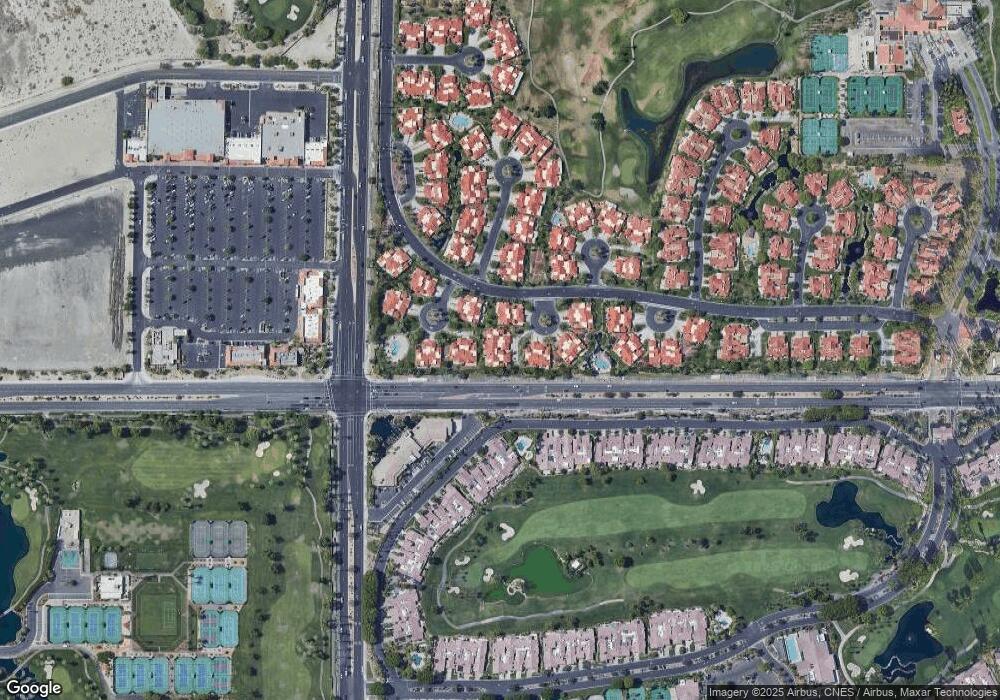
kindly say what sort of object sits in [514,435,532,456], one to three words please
swimming pool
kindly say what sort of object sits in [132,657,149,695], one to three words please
tennis court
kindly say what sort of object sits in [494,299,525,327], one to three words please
house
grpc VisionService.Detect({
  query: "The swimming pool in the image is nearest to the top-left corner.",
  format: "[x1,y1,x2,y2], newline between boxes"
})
[449,111,473,131]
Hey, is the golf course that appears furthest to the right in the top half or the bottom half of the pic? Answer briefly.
bottom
